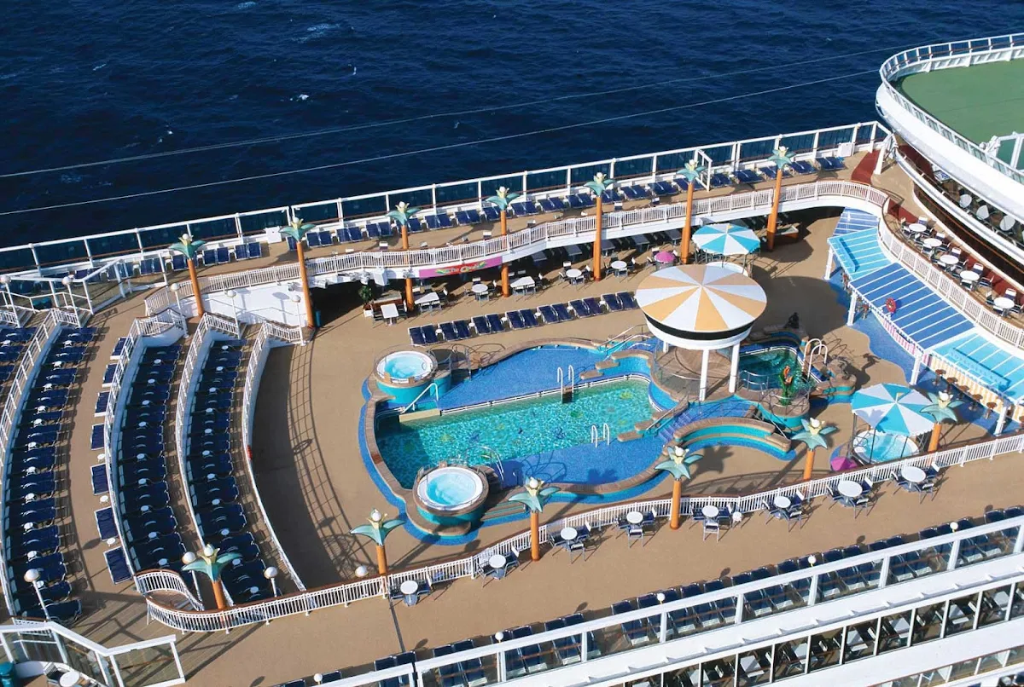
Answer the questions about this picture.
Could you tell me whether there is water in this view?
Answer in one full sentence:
Yes, some water is visible.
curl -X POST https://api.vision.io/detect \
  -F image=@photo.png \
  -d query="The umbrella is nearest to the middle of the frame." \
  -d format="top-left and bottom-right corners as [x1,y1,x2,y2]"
[647,250,680,272]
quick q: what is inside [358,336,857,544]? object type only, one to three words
swimming pool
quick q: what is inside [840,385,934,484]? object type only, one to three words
umbrella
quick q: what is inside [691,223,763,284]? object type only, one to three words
umbrella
